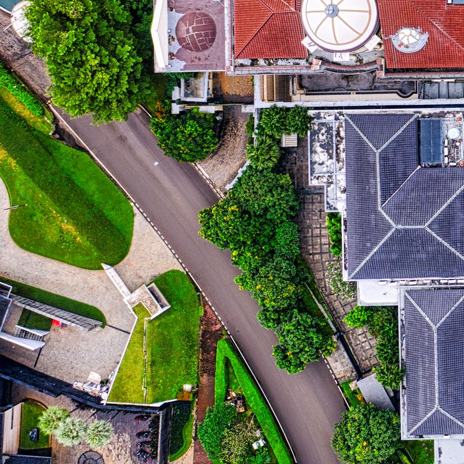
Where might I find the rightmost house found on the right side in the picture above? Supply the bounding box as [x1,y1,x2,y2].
[306,107,464,464]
